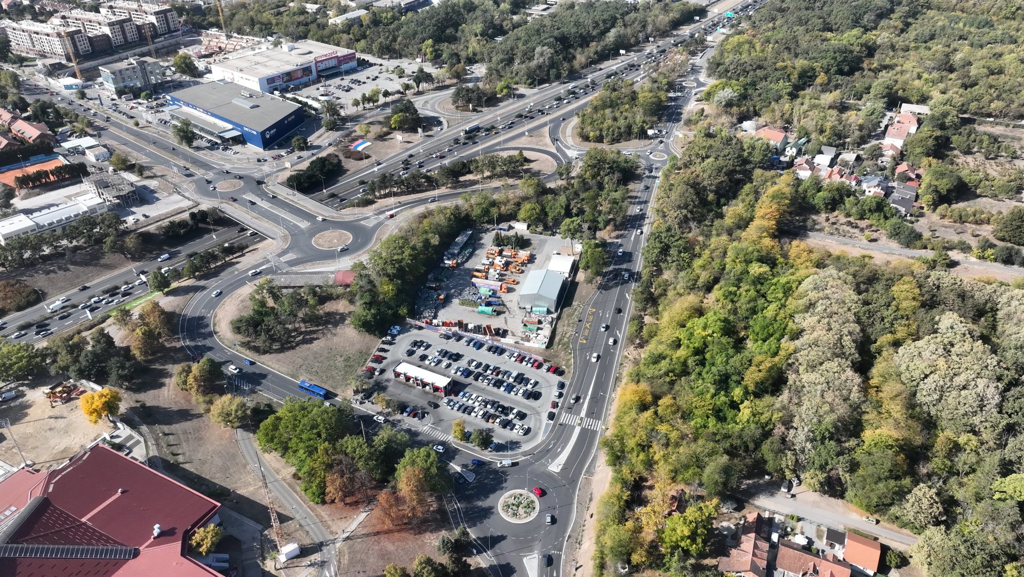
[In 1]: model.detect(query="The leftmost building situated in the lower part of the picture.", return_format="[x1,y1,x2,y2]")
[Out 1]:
[0,442,228,577]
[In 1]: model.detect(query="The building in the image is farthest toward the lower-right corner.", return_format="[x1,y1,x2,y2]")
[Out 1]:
[841,531,881,577]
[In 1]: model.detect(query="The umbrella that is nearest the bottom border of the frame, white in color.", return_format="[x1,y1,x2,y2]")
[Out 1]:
[793,533,809,547]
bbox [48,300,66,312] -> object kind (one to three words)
vehicle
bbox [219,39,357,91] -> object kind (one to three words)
building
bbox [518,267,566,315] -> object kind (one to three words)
shed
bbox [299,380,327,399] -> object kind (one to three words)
vehicle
